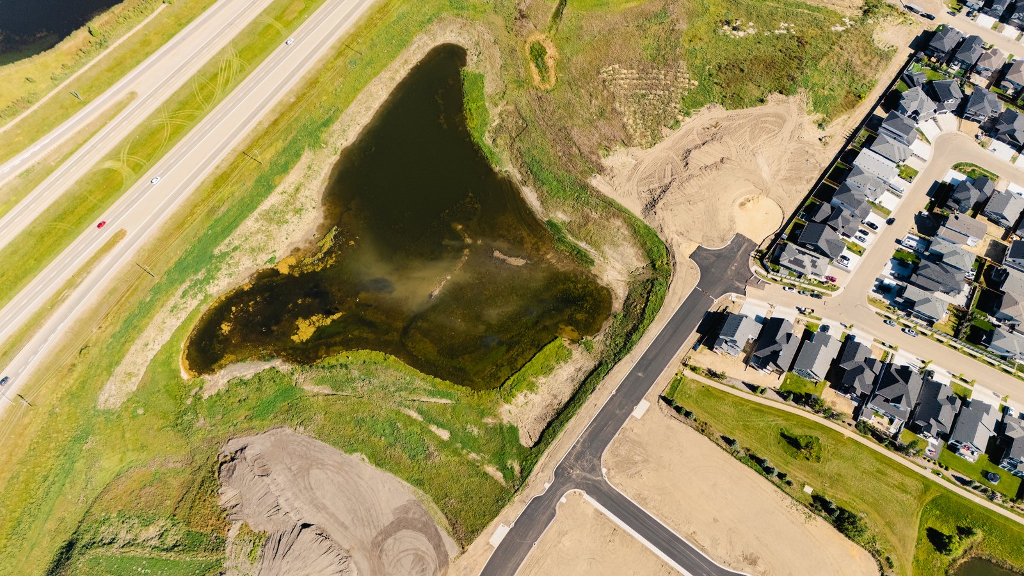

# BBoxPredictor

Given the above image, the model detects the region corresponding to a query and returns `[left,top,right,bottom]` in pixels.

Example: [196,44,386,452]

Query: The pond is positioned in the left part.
[185,43,613,389]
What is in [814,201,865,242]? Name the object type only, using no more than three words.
house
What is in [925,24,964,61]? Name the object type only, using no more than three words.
house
